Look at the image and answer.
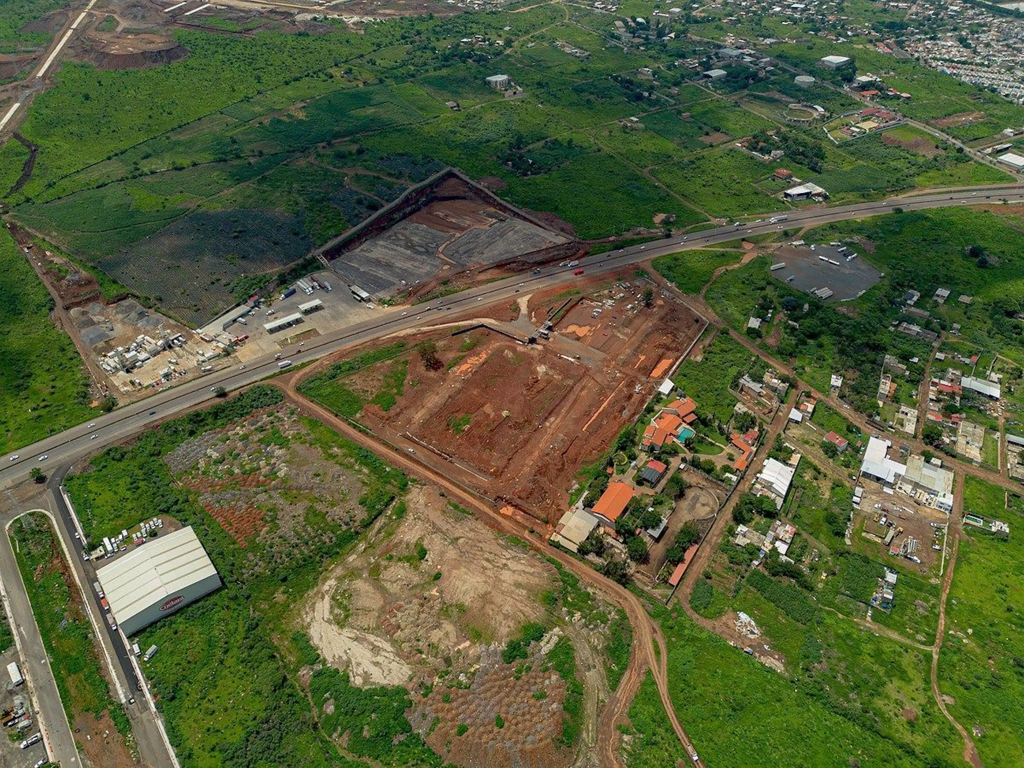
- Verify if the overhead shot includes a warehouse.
Yes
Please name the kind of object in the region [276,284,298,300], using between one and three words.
vehicle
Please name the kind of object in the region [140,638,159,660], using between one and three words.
vehicle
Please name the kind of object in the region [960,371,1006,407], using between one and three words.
building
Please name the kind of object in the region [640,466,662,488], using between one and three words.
house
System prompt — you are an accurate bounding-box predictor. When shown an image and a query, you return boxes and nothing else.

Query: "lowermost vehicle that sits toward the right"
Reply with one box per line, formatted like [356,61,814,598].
[683,740,704,765]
